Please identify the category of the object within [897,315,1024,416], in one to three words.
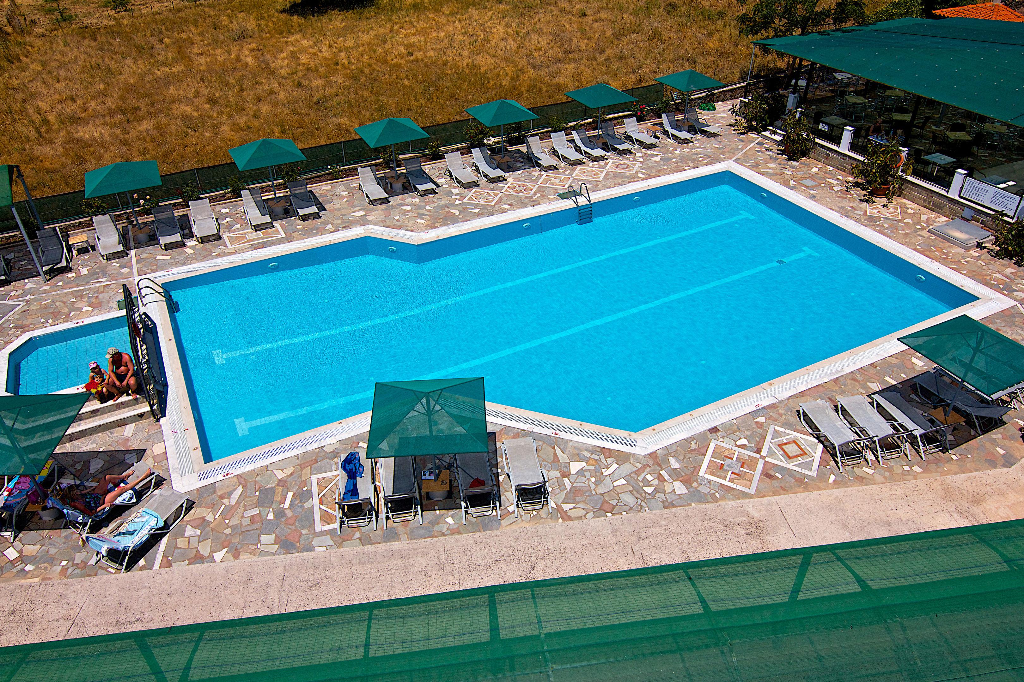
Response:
umbrella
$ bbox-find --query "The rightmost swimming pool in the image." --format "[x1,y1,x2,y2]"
[135,162,1017,495]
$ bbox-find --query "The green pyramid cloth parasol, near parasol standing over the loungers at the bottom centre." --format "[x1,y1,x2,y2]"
[367,378,489,481]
